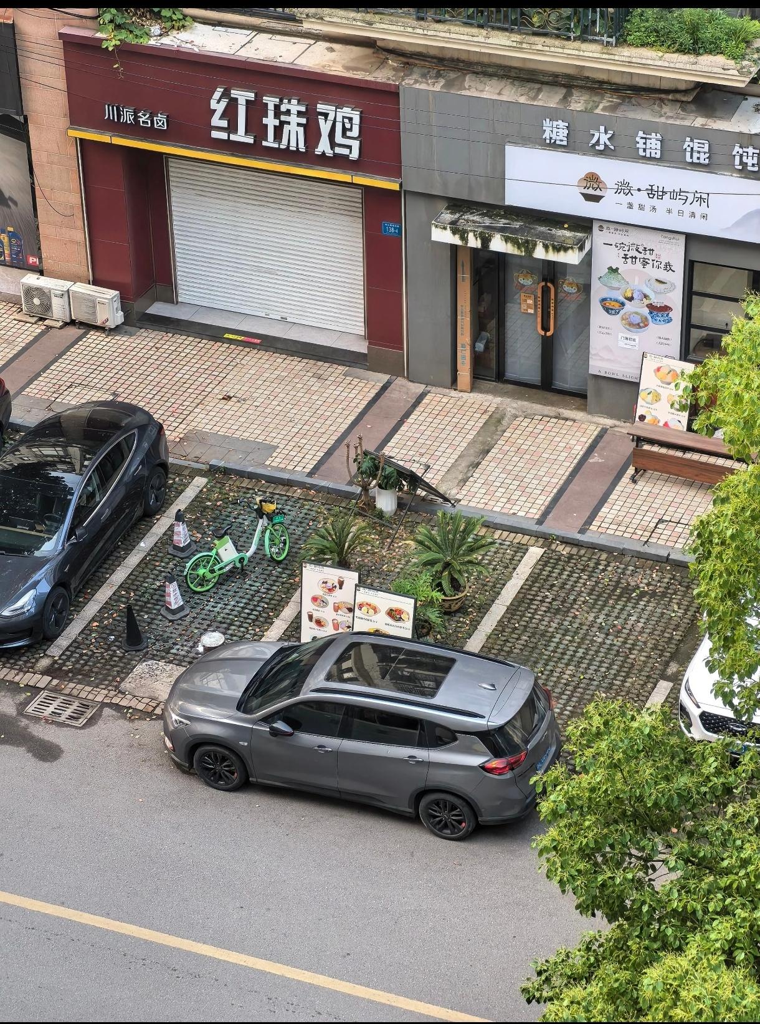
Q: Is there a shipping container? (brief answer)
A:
No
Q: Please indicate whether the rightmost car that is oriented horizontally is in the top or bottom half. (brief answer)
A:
bottom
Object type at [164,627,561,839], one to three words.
car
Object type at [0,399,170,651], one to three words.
car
